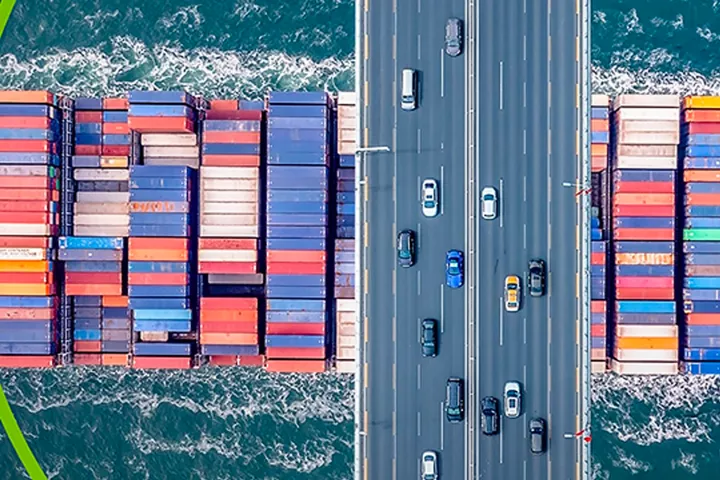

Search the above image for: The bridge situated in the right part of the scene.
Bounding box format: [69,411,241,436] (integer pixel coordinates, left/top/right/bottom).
[356,0,591,480]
